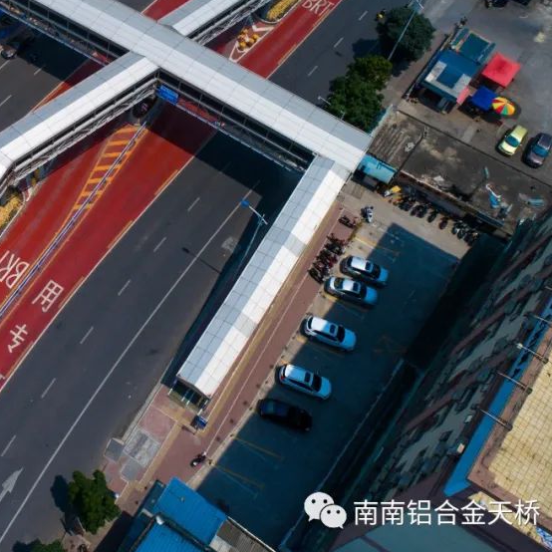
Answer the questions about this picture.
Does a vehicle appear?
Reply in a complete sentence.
Yes, a vehicle is visible in the scene.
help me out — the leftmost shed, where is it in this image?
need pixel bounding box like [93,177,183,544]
[118,481,166,552]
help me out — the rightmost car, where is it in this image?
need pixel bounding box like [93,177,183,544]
[524,129,552,166]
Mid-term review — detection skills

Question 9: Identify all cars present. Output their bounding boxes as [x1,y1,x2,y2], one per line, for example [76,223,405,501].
[524,129,552,166]
[303,315,356,353]
[277,366,332,403]
[325,275,377,309]
[255,395,313,435]
[339,254,391,289]
[496,124,530,155]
